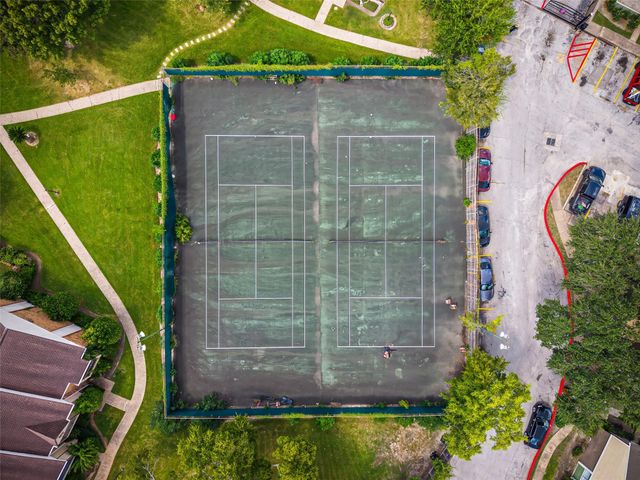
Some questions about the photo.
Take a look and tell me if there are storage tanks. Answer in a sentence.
No, the photo shows no storage tank.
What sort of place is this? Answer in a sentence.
What you see here is a sports ground.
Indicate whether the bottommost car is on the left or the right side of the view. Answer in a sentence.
It is on the right.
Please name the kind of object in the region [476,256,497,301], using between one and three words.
car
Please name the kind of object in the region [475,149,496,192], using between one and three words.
car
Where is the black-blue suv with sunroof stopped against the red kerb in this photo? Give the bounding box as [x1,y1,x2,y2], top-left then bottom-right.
[522,401,554,449]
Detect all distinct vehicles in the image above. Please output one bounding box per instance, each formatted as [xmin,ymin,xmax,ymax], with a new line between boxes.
[522,401,554,449]
[622,65,640,109]
[476,256,497,301]
[566,167,608,214]
[473,109,494,140]
[475,149,496,192]
[620,192,640,214]
[473,204,494,248]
